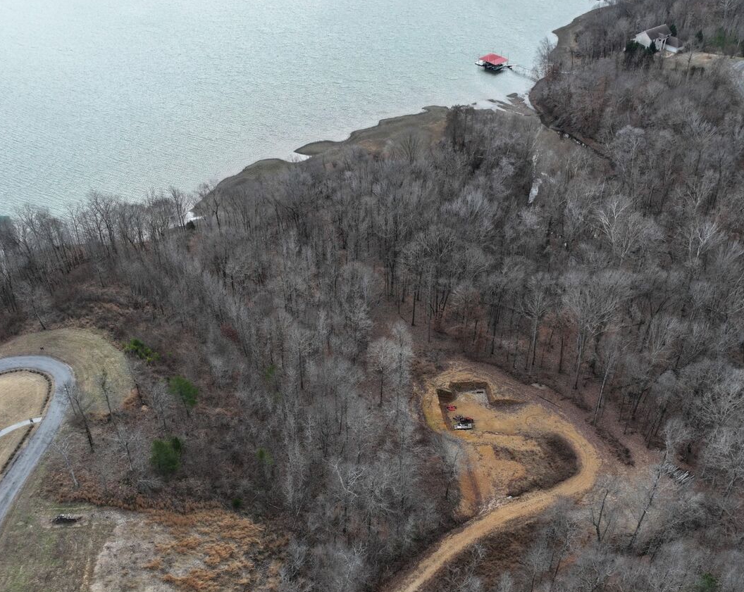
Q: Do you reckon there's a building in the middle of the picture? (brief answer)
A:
No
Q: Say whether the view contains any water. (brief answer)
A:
Yes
